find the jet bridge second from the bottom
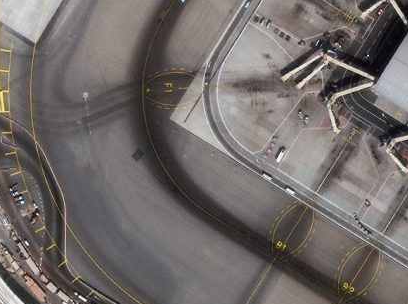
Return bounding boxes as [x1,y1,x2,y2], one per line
[326,103,339,135]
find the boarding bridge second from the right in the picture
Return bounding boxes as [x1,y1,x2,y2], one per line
[359,0,388,20]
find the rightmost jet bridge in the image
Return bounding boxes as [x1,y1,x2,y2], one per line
[386,150,408,175]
